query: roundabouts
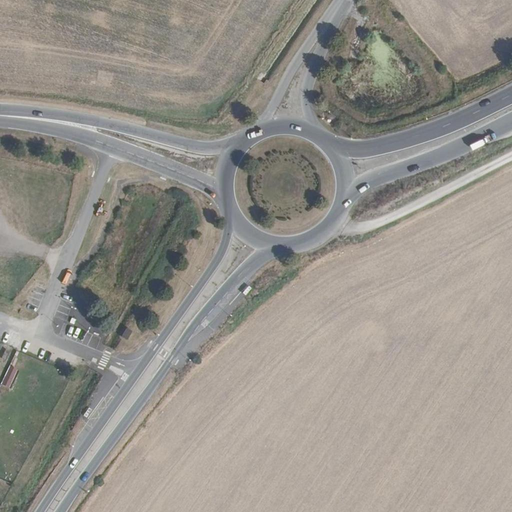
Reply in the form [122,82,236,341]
[215,116,356,256]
